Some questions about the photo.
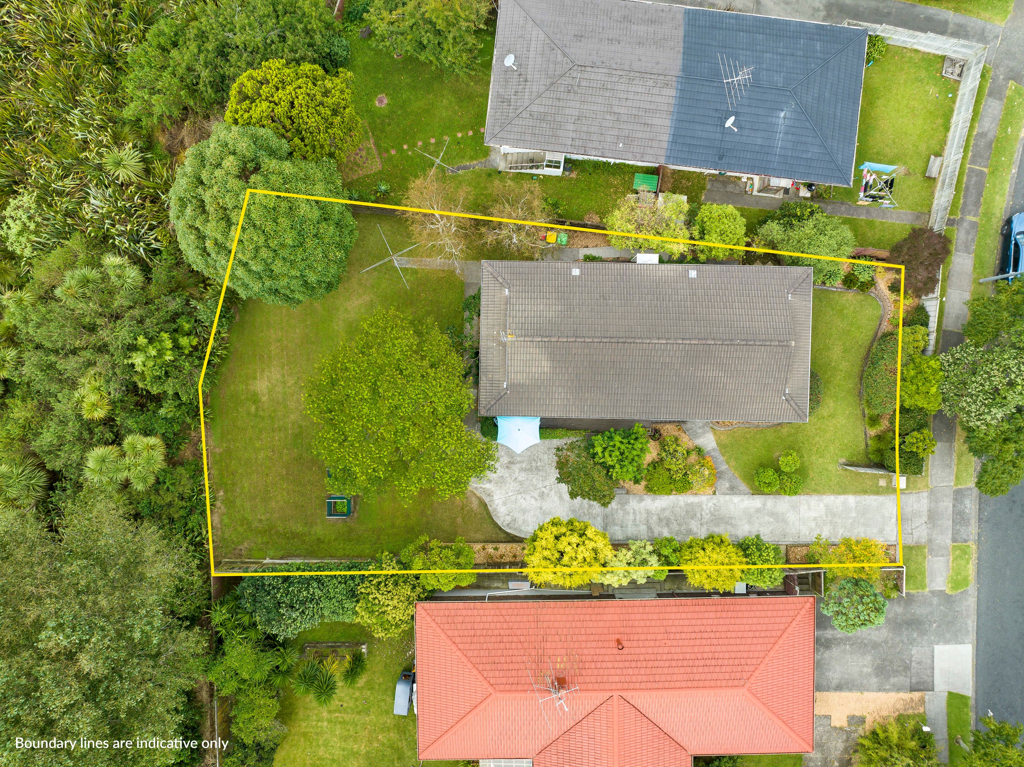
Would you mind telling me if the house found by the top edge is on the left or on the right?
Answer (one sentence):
You can find the house found by the top edge on the right side of the picture.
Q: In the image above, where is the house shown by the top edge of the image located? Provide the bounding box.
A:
[481,0,871,192]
